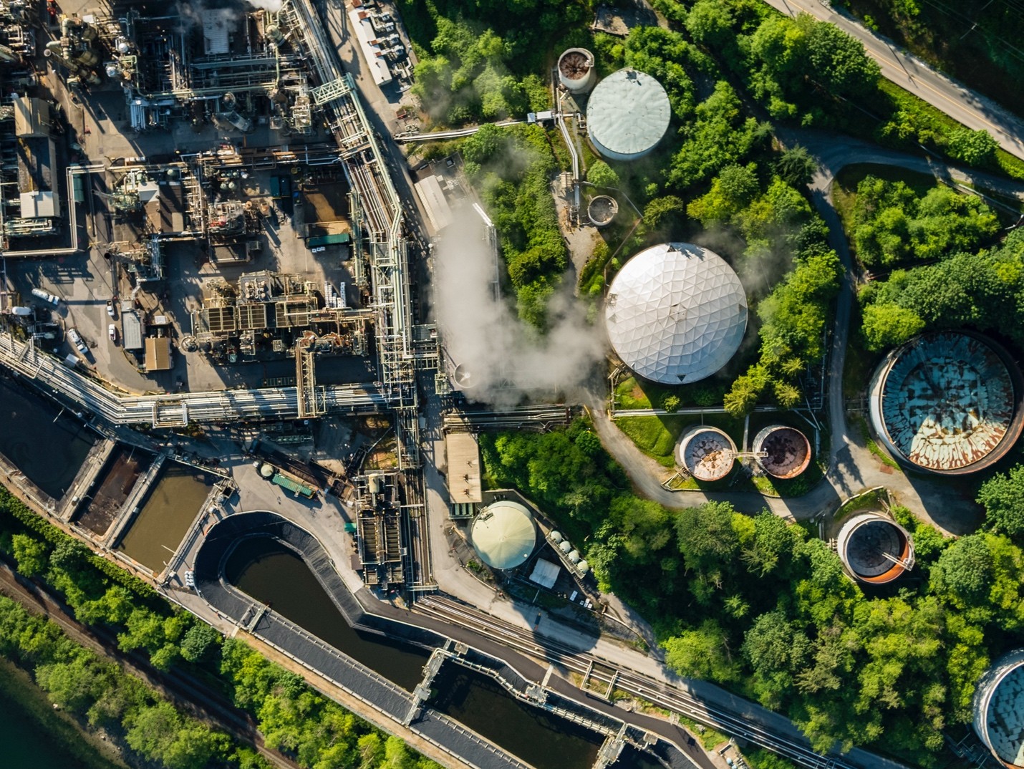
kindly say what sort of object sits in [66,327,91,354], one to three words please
truck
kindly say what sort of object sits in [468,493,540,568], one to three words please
storage tank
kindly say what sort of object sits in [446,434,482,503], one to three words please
building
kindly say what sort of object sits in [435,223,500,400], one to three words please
cooling tower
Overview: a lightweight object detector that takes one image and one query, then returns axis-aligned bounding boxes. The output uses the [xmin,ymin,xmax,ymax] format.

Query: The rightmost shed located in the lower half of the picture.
[529,557,560,589]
